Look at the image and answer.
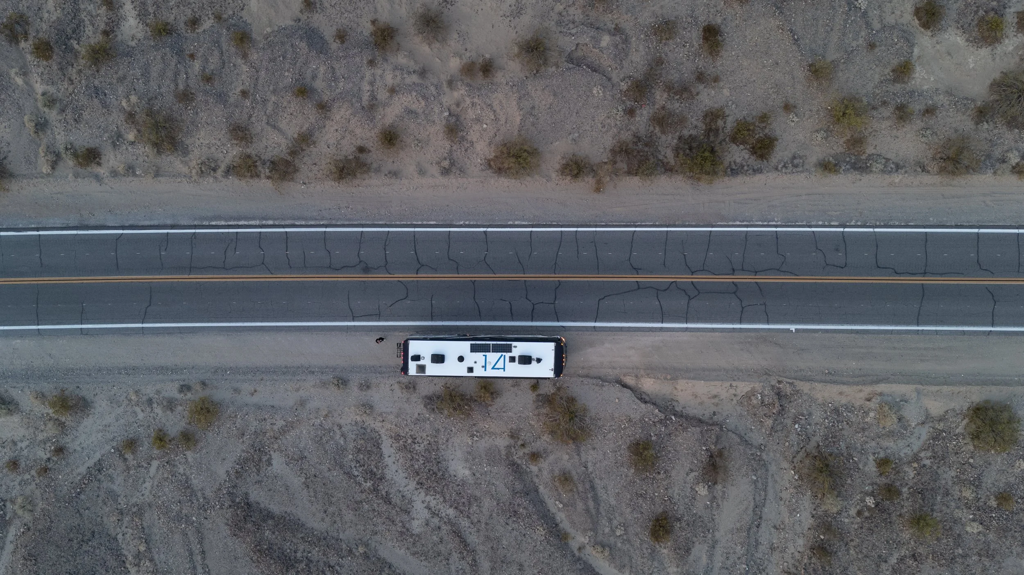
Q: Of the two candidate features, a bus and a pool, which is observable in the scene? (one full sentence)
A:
Looking from above, you can make out a bus.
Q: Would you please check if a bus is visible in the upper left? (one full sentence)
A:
No, the scene shows no bus in the upper left.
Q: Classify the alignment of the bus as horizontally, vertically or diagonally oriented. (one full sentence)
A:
In this picture, the bus is oriented horizontally.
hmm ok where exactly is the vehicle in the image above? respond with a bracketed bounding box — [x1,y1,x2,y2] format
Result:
[397,335,568,381]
